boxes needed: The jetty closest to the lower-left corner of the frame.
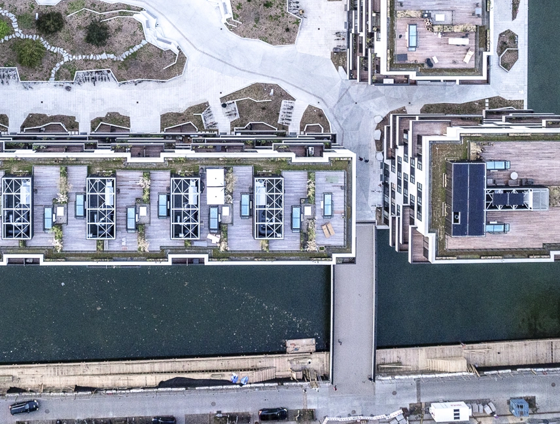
[0,349,329,387]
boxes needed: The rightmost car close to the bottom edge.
[260,410,287,424]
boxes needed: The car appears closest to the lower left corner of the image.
[10,402,37,418]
